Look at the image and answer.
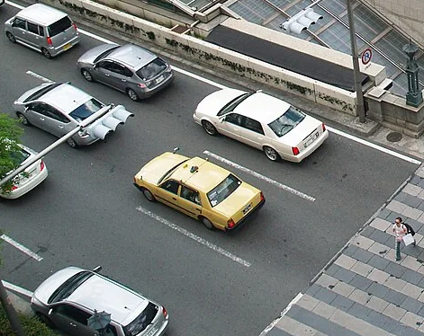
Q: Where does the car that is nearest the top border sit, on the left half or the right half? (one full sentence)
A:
The car that is nearest the top border sits on the left side.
